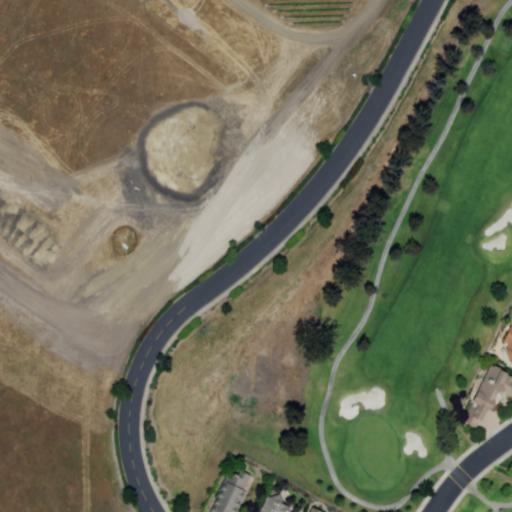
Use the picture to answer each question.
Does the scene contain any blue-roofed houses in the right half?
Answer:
No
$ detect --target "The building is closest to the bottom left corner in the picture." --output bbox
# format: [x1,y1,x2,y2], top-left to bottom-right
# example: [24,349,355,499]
[206,468,254,512]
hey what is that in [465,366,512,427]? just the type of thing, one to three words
house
